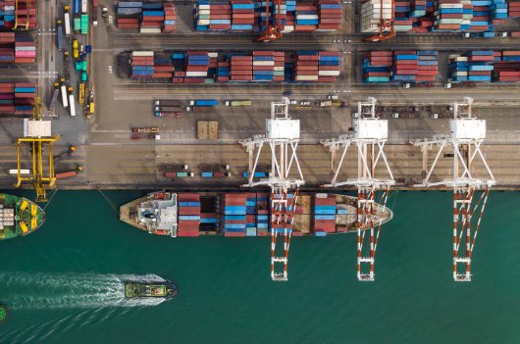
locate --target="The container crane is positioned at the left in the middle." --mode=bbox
[5,95,60,212]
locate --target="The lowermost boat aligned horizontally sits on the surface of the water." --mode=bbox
[124,282,178,299]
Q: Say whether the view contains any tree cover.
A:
No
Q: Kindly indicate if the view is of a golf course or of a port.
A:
port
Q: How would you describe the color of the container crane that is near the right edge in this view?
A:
white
